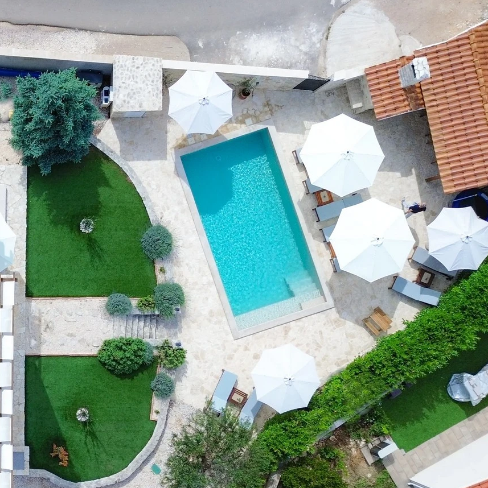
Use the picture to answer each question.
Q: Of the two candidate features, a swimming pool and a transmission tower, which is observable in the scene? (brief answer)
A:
swimming pool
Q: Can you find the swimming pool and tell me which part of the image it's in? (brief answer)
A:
center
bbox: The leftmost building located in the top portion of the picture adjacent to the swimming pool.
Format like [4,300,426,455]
[108,57,162,124]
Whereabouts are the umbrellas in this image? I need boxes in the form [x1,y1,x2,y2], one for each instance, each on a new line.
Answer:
[299,111,387,199]
[169,69,234,135]
[0,216,20,270]
[254,347,319,411]
[419,206,488,272]
[329,196,416,284]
